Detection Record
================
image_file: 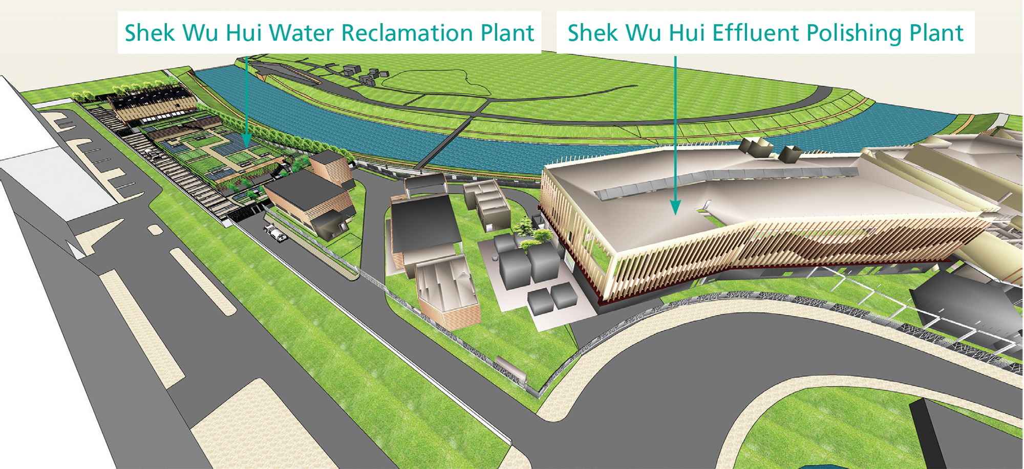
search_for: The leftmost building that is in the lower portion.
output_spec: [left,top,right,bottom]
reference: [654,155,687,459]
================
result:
[0,178,212,469]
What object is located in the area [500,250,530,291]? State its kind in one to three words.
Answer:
storage tank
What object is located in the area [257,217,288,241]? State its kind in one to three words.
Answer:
truck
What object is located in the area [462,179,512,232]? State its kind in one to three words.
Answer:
building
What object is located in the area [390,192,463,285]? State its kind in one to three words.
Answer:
building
